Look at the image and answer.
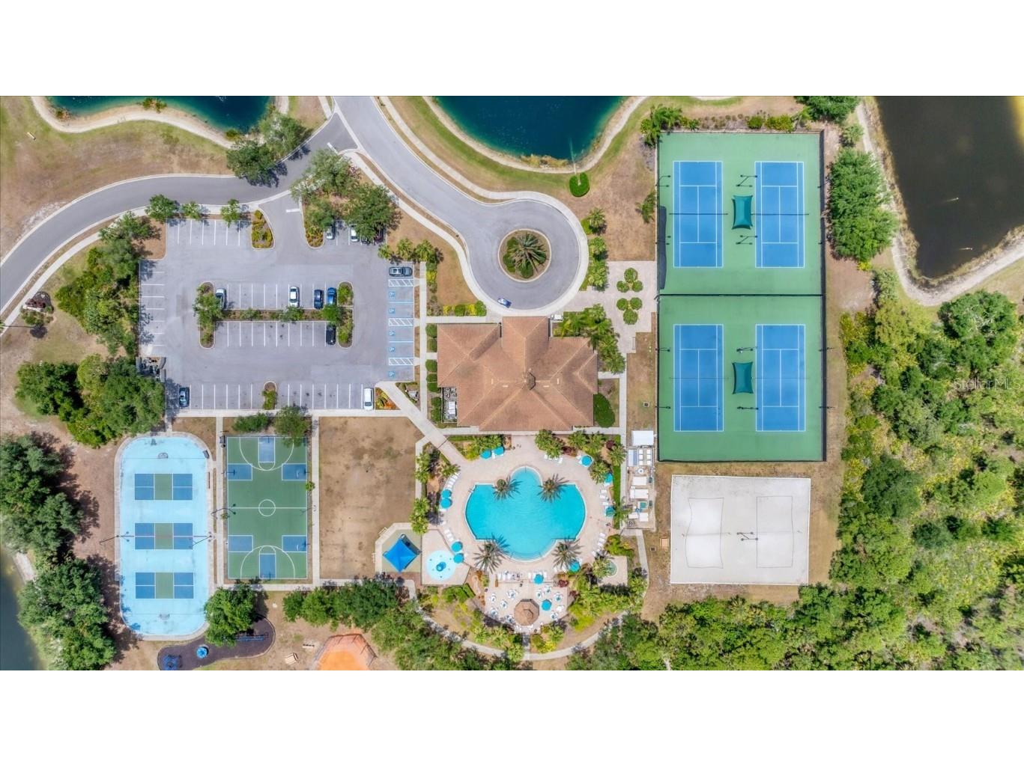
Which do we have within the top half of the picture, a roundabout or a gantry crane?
roundabout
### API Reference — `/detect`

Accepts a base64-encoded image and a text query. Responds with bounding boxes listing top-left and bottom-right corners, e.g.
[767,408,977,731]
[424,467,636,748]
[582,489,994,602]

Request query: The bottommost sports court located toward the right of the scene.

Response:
[670,475,811,586]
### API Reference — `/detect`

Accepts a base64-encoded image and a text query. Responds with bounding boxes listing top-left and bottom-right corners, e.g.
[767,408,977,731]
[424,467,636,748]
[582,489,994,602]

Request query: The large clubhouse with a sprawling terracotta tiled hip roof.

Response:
[437,316,598,431]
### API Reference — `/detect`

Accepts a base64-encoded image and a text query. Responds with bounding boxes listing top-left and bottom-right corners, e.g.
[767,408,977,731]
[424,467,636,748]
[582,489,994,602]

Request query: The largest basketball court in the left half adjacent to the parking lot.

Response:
[225,436,309,581]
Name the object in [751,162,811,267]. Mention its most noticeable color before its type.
blue tennis court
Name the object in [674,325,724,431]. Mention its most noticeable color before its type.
blue tennis court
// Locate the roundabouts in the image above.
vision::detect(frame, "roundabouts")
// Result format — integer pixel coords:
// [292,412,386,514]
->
[471,198,582,311]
